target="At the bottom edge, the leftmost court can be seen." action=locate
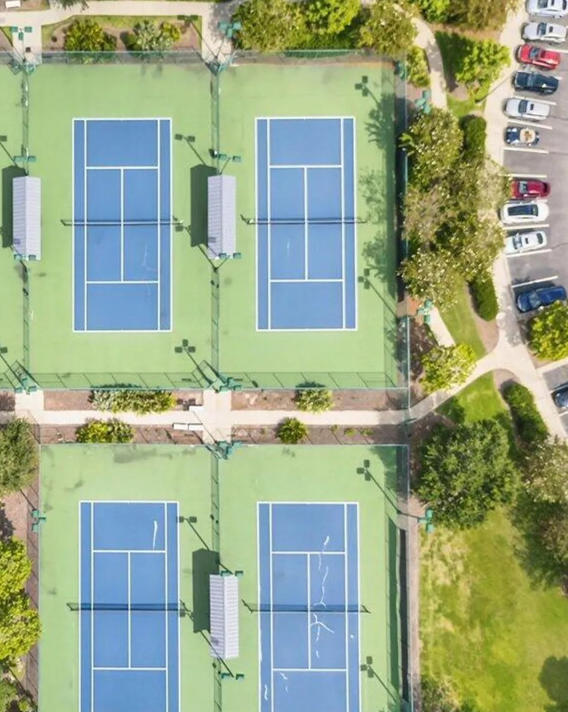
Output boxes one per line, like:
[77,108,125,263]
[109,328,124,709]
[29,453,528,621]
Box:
[39,447,217,712]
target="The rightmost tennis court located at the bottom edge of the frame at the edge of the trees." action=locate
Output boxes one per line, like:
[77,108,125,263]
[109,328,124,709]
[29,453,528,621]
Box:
[216,447,400,712]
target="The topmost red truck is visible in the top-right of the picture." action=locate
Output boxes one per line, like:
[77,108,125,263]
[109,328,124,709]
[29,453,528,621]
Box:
[515,45,562,70]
